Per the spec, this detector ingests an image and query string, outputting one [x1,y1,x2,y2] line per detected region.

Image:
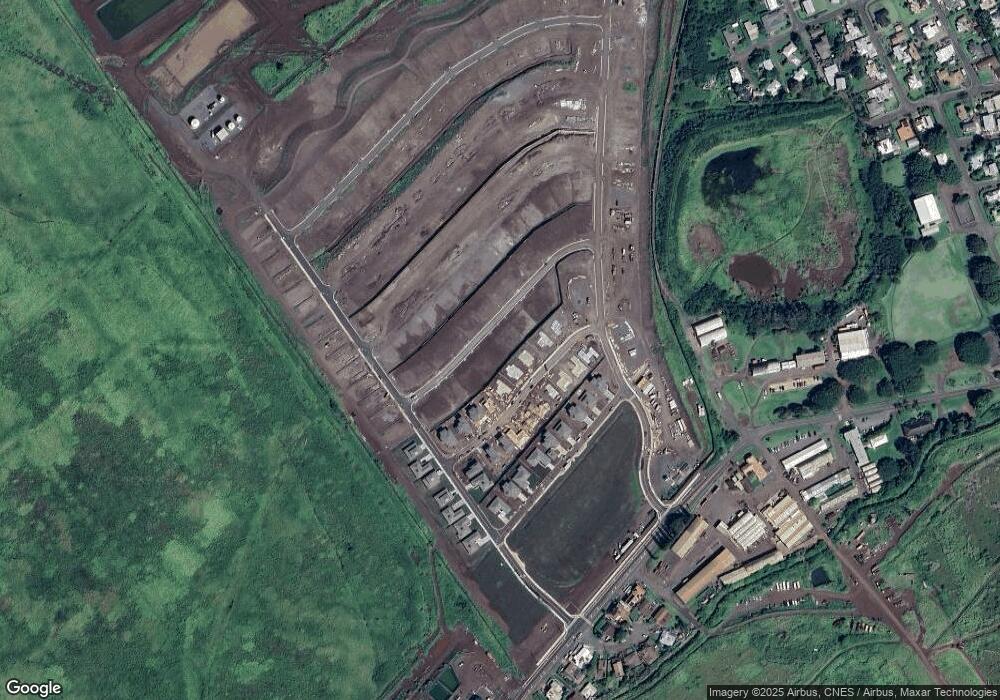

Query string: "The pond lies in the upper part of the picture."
[100,0,177,39]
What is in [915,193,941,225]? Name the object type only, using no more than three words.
building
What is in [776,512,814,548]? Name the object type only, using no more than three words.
building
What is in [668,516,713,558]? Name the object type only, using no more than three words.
shed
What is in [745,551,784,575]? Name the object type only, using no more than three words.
shed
